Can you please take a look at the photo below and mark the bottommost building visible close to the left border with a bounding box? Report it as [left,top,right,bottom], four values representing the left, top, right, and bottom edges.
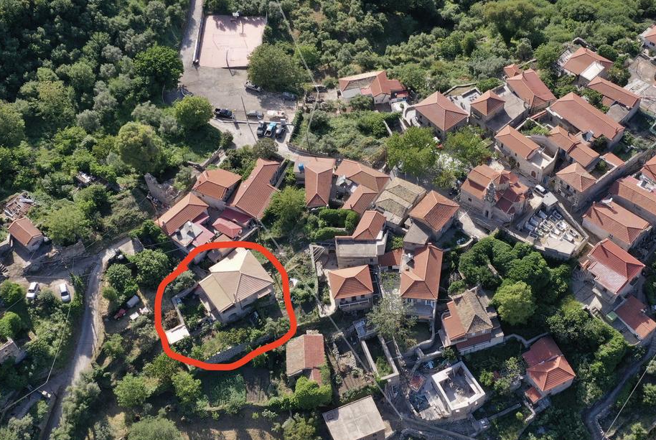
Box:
[0,340,25,363]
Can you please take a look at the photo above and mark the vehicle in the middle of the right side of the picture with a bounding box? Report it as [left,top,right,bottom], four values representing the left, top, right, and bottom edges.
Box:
[532,180,549,193]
